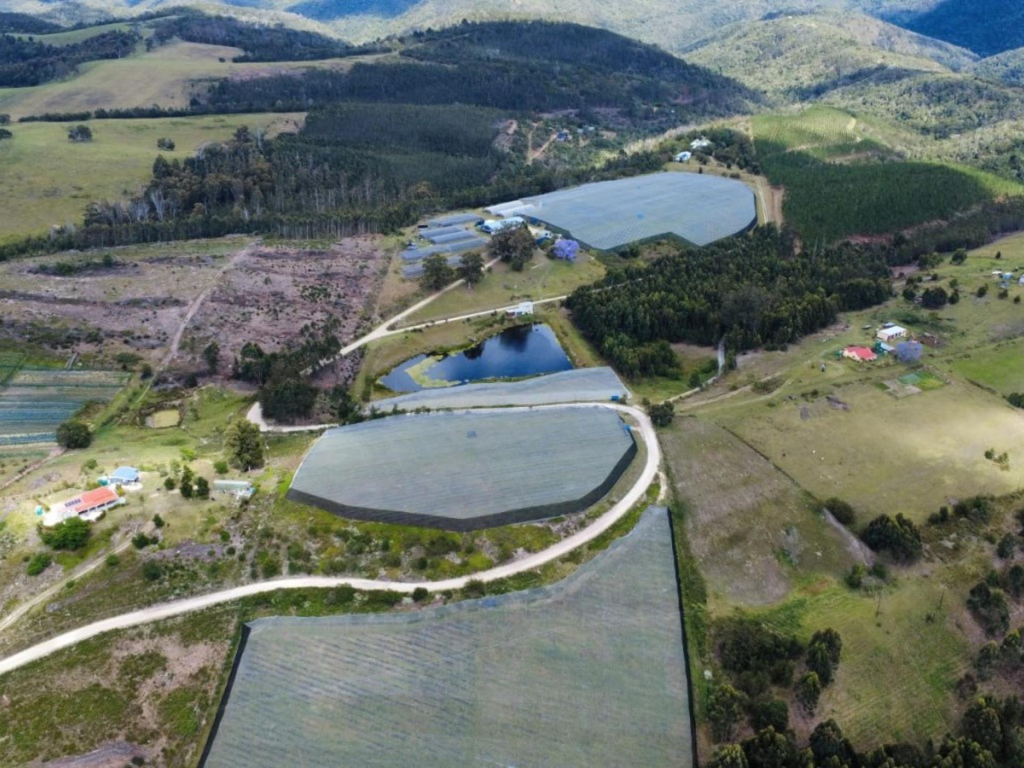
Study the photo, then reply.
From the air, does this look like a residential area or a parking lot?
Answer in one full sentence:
This image shows a residential area.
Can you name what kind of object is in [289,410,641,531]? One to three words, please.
house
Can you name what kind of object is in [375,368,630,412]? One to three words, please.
house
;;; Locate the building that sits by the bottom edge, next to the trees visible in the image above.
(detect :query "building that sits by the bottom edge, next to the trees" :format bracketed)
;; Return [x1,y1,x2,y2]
[201,508,695,768]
